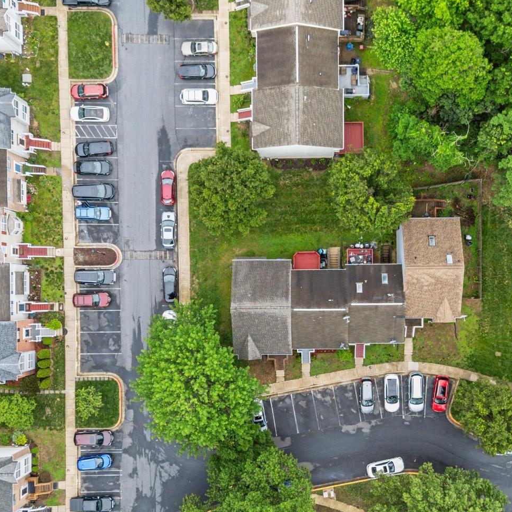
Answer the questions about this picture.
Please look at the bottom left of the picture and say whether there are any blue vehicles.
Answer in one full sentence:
Yes, I can see a blue vehicle at the bottom left of the picture.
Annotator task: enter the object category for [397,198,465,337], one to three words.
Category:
house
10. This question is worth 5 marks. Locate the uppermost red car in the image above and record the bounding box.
[73,82,110,101]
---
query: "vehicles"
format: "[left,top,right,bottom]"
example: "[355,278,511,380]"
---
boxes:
[73,105,111,123]
[73,181,116,200]
[159,170,177,206]
[182,39,219,58]
[382,373,400,412]
[73,82,110,101]
[74,291,113,309]
[431,374,449,412]
[76,199,113,222]
[358,376,376,414]
[75,429,115,448]
[78,453,114,471]
[159,211,177,249]
[61,0,112,7]
[161,310,179,344]
[76,139,115,157]
[70,494,116,512]
[179,62,217,81]
[74,158,113,176]
[407,371,426,412]
[366,455,405,477]
[180,86,219,105]
[75,268,117,287]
